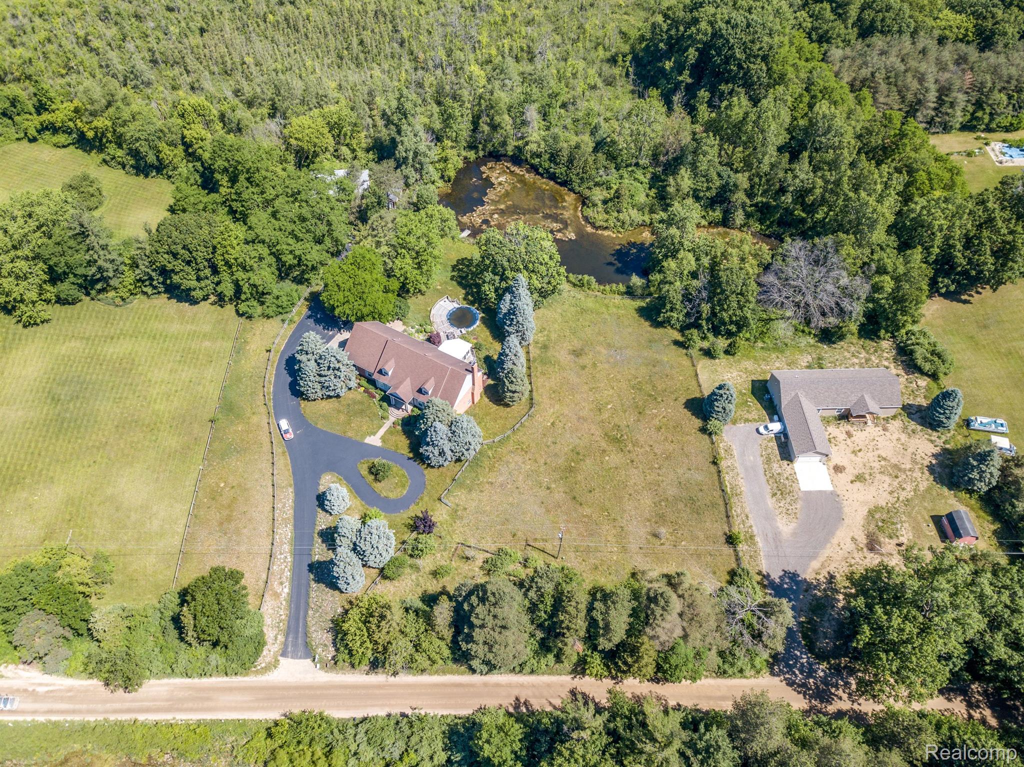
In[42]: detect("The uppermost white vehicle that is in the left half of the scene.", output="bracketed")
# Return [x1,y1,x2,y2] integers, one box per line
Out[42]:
[278,419,293,441]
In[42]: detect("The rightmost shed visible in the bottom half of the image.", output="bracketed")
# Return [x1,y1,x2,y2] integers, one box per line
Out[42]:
[941,510,979,543]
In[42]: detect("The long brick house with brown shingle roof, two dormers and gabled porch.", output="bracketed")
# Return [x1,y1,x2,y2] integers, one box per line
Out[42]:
[343,319,485,420]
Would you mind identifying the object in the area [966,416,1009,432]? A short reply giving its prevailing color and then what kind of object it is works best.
white boat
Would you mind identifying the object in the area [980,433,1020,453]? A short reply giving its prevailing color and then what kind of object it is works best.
white boat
